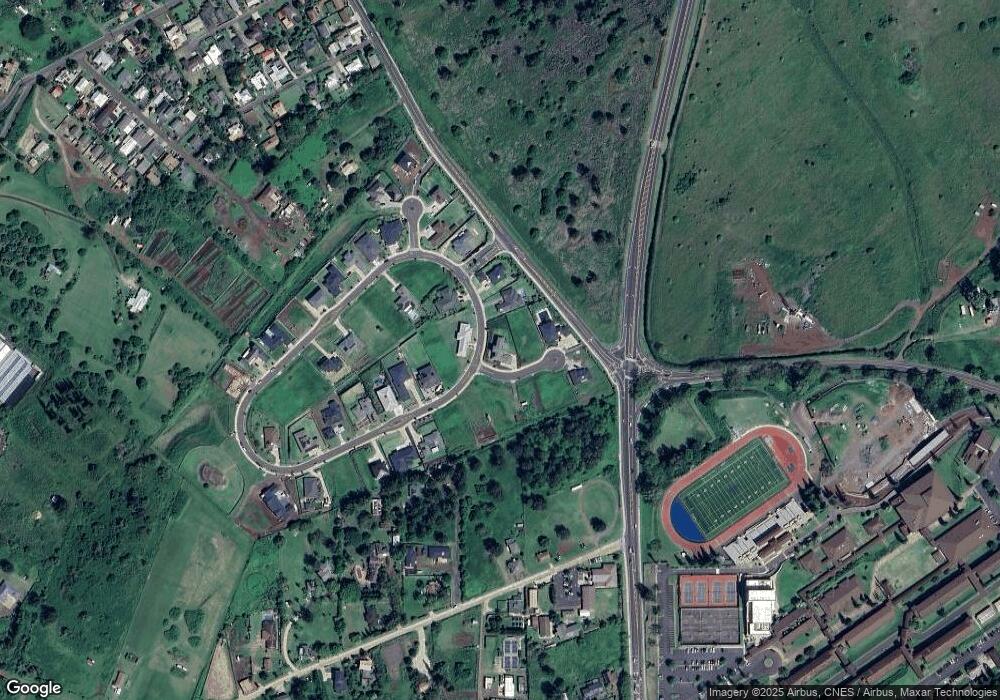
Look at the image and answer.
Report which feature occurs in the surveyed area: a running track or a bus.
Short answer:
running track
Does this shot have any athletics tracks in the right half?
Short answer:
Yes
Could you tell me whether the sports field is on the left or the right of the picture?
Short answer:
right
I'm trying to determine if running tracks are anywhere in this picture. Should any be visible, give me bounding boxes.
[662,425,810,551]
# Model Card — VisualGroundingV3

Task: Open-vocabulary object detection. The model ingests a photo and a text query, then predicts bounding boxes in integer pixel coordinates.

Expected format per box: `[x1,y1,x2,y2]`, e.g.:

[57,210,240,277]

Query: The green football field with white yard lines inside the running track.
[676,437,791,542]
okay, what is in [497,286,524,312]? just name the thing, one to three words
house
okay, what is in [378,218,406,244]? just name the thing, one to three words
house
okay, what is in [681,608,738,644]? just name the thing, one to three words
sports court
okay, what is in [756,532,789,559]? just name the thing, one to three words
building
